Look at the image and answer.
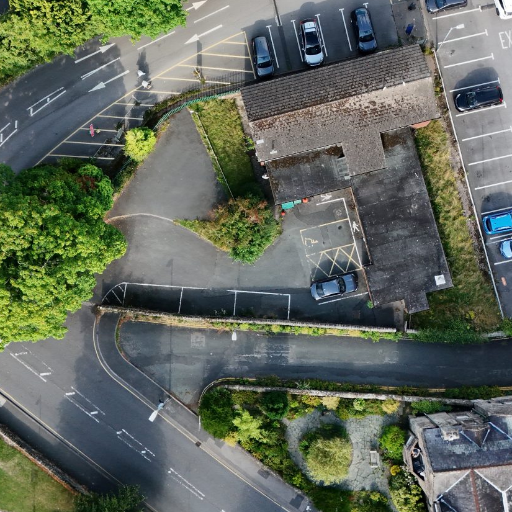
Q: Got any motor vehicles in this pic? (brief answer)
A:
Yes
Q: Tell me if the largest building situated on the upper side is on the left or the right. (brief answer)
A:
right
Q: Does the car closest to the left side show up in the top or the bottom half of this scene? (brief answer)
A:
top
